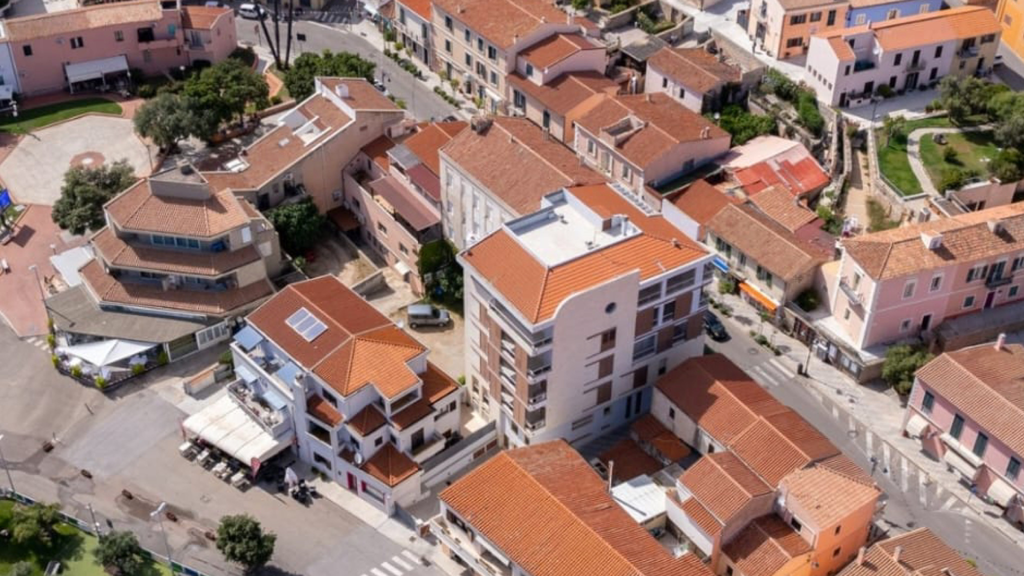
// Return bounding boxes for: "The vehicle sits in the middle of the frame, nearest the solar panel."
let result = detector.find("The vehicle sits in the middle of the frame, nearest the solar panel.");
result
[405,304,451,331]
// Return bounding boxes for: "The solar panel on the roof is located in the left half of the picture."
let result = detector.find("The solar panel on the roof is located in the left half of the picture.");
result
[285,307,329,342]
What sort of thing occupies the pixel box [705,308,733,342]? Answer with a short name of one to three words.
car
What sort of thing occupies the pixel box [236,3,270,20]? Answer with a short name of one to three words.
car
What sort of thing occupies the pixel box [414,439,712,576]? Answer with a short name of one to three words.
house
